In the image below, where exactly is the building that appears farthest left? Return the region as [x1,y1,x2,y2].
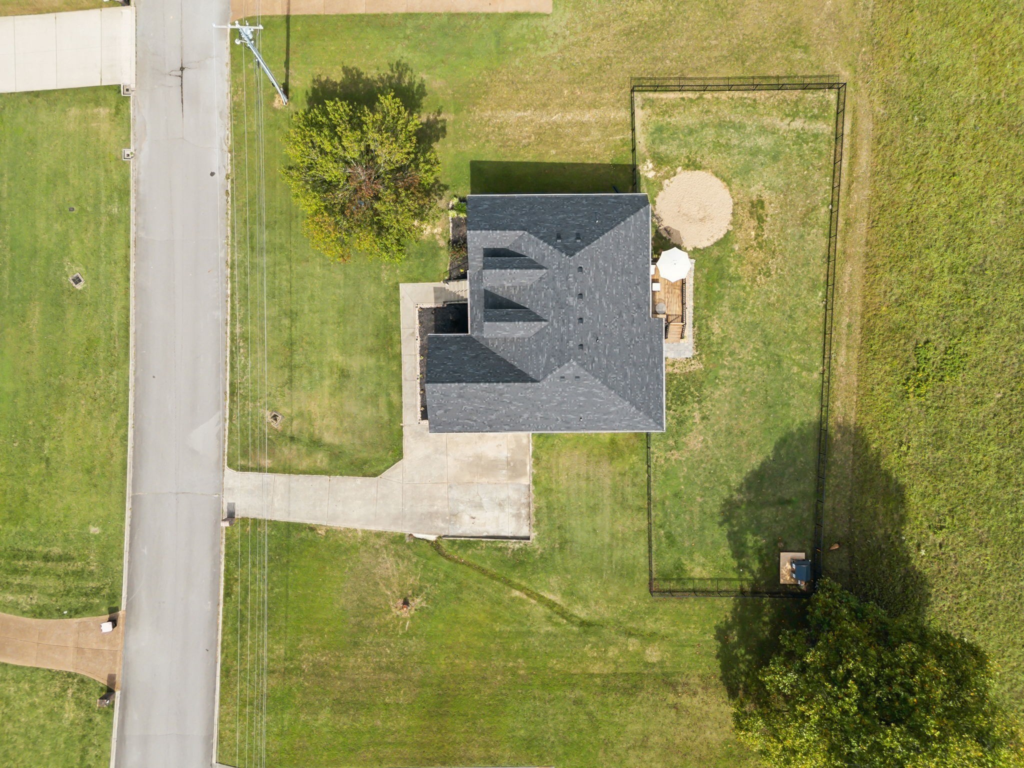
[424,193,667,433]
